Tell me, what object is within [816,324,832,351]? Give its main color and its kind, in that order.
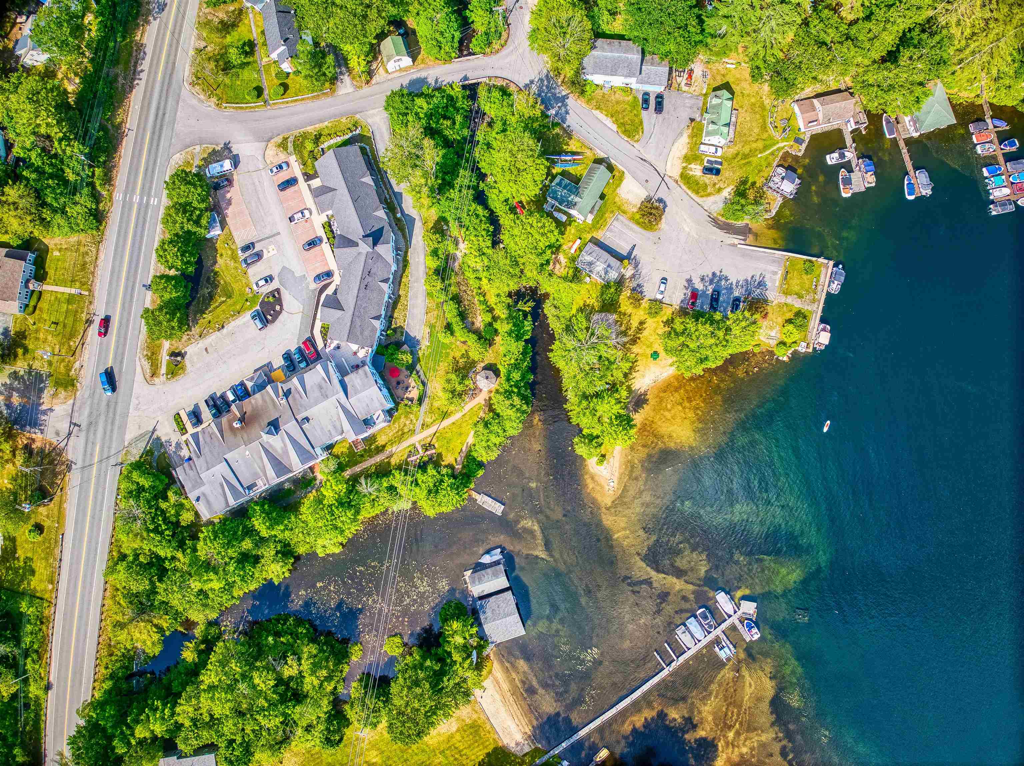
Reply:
white boat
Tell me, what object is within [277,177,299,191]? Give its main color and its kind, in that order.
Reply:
blue car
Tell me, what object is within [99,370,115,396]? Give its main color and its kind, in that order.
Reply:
blue vehicle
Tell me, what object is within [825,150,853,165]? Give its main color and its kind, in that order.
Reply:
white boat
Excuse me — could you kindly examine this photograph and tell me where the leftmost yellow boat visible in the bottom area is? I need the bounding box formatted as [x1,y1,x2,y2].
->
[592,747,608,765]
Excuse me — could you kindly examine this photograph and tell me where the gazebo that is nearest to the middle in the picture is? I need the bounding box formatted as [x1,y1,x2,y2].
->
[476,370,497,390]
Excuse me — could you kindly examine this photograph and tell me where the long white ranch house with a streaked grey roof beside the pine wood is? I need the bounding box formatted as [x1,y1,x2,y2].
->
[582,38,668,92]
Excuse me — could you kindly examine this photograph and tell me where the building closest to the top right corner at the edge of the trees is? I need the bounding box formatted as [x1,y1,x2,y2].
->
[906,81,956,134]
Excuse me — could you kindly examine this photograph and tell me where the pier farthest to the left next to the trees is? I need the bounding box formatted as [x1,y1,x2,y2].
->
[469,489,506,516]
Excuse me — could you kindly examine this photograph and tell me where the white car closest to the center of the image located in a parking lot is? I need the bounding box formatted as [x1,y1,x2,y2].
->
[656,278,668,299]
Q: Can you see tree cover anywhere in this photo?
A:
Yes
